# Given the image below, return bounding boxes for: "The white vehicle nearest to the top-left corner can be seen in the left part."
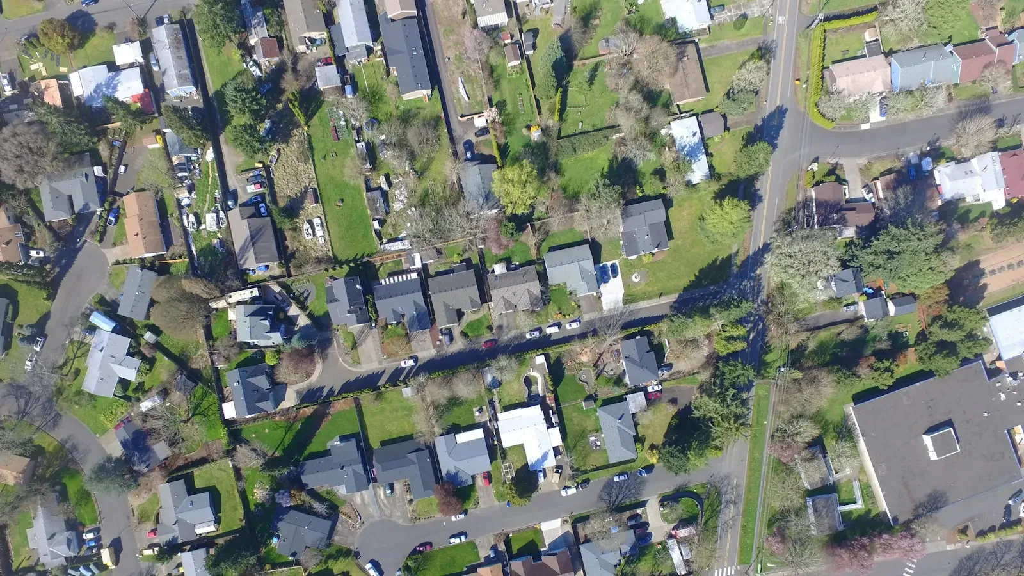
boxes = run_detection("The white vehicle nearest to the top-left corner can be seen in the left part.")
[1,74,13,93]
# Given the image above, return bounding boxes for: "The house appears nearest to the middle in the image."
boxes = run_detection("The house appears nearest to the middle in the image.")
[487,263,545,315]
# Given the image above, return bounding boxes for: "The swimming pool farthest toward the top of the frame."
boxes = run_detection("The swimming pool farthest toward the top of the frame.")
[523,371,542,405]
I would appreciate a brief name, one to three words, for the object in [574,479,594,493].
vehicle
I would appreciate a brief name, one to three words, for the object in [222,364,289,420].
house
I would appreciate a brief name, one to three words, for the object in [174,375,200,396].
shed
